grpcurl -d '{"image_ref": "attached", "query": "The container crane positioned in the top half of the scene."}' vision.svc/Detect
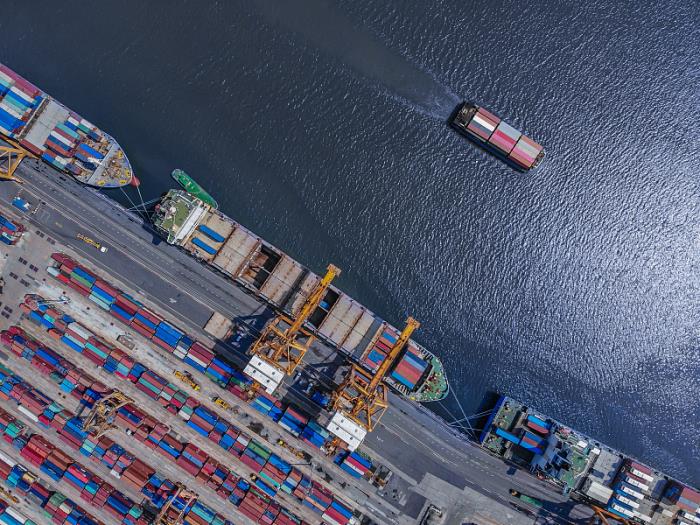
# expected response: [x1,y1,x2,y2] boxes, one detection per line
[0,134,44,187]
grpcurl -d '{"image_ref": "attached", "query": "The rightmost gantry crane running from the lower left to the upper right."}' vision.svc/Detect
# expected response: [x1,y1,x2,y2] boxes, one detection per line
[321,314,421,450]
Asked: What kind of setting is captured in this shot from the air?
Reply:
port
